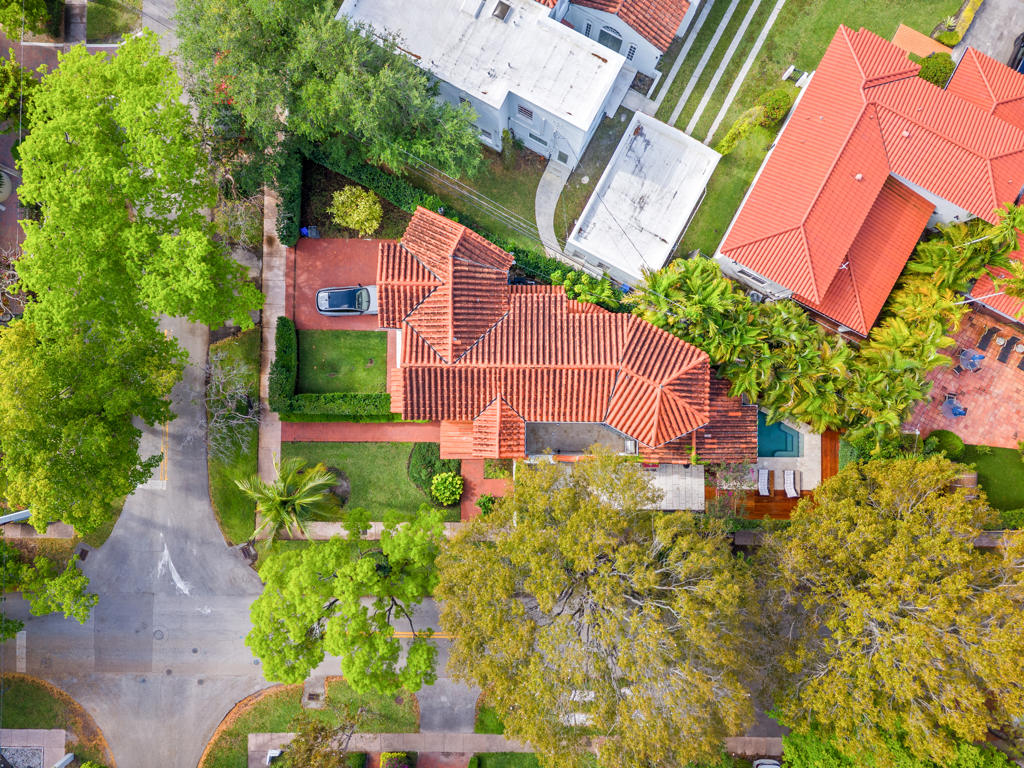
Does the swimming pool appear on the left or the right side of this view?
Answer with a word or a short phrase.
right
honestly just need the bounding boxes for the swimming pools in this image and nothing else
[757,412,805,457]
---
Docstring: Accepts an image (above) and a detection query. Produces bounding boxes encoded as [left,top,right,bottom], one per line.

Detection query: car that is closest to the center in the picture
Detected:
[311,280,379,318]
